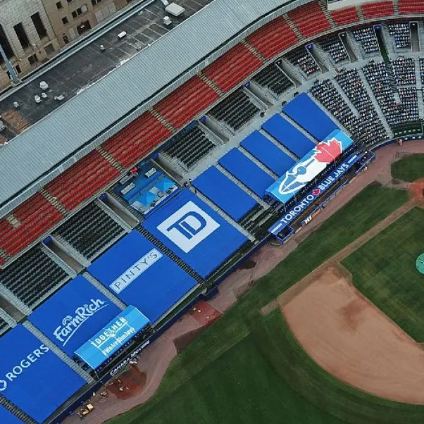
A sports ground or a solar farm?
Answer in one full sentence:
This looks like a sports ground.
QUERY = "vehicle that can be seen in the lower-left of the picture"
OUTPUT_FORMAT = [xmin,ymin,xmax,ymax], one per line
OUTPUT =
[76,399,96,416]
